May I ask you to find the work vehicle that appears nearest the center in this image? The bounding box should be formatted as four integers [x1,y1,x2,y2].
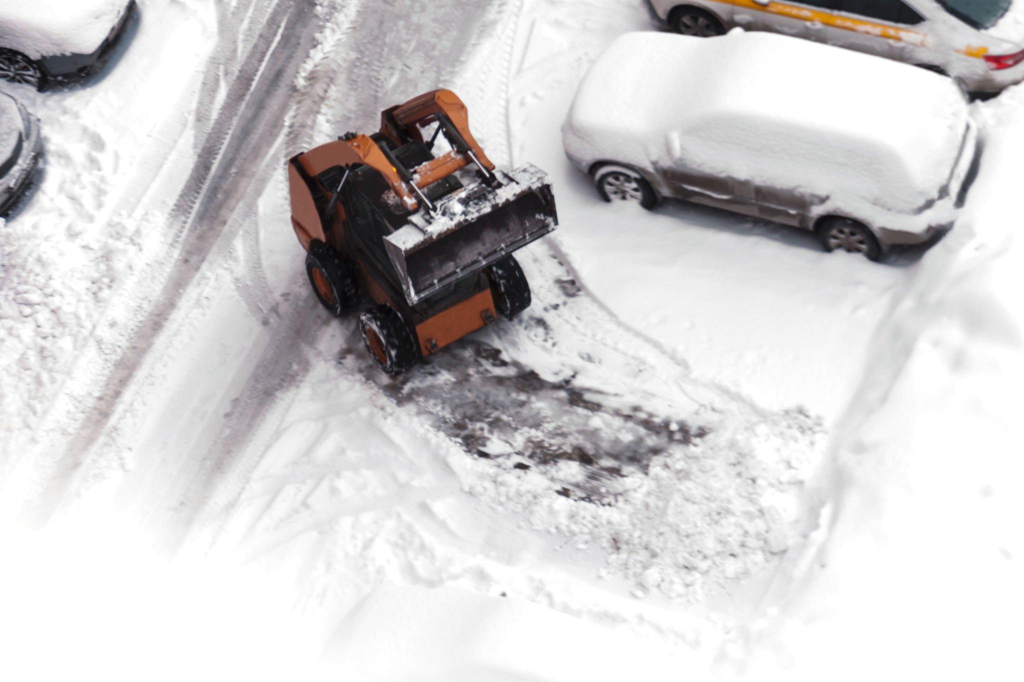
[288,91,562,374]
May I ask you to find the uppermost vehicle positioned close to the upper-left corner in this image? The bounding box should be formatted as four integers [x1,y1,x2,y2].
[0,0,146,94]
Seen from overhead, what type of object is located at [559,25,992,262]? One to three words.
car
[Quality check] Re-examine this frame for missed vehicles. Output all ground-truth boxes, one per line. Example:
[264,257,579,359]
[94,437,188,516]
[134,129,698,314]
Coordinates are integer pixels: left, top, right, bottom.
[0,91,49,222]
[288,91,562,374]
[0,0,146,94]
[637,0,1024,95]
[559,25,992,262]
